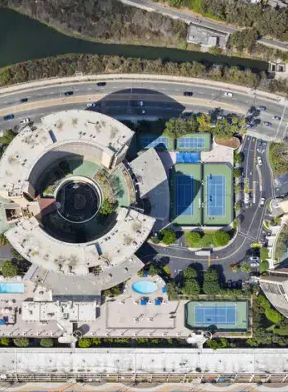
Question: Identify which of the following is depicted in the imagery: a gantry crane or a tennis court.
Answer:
tennis court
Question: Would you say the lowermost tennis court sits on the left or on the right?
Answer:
right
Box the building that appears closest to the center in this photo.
[130,147,169,230]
